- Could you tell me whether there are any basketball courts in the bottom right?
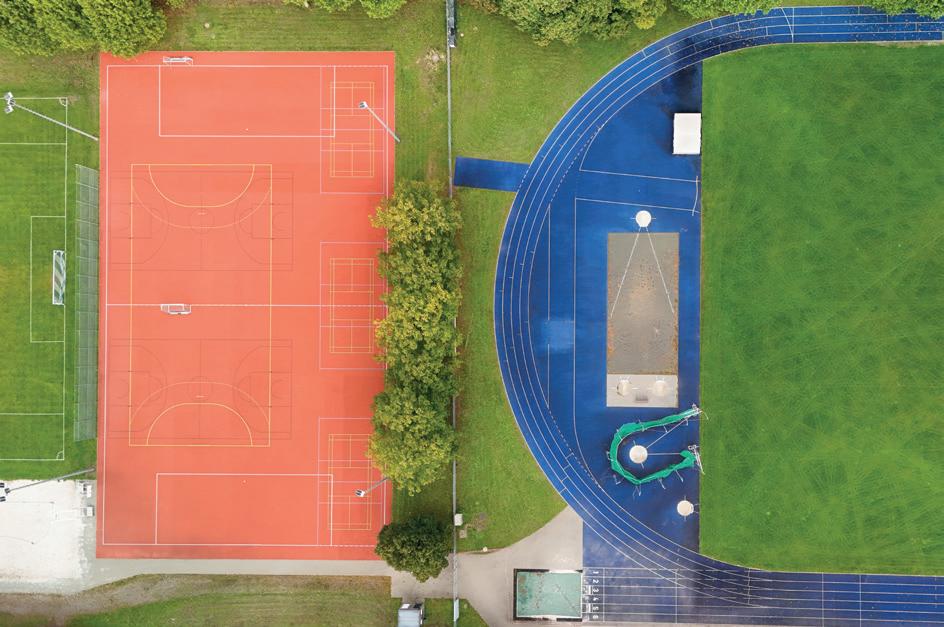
No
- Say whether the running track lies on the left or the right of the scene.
right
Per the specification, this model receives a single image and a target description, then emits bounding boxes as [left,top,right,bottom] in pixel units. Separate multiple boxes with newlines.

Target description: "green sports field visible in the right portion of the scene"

[700,41,944,576]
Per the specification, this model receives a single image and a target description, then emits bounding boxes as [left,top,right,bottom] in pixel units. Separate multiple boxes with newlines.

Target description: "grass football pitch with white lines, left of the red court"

[0,96,68,462]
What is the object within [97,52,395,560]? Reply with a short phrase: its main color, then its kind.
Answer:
red sports court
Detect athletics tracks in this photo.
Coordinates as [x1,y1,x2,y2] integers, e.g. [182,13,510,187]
[493,6,944,627]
